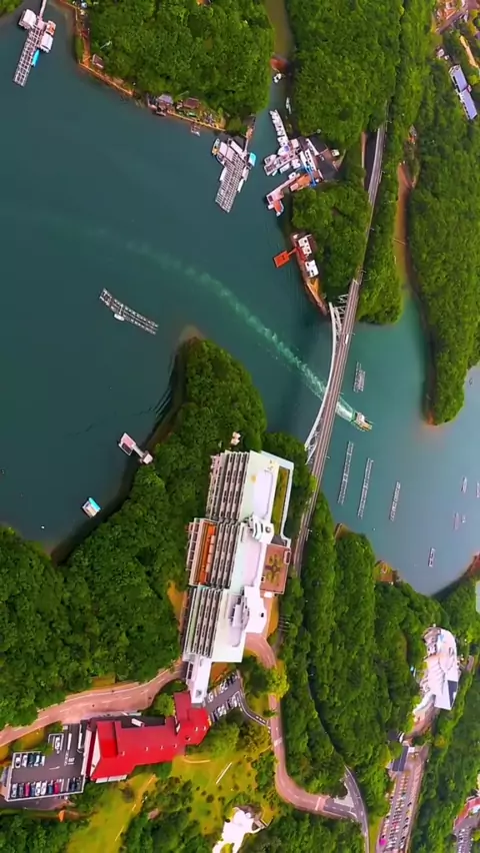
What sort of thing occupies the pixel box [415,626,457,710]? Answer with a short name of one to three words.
building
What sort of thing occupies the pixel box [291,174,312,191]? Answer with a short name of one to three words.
ship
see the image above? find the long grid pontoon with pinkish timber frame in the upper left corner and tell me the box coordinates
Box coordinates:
[13,18,45,90]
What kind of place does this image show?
port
